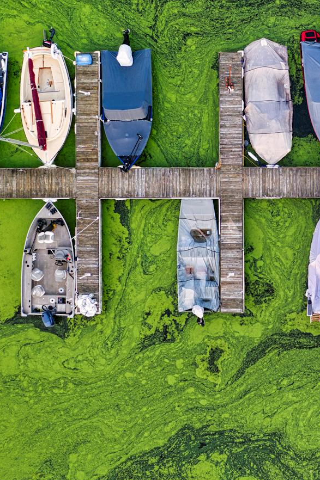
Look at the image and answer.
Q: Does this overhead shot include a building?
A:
No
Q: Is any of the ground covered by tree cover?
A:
No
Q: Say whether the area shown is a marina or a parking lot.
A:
marina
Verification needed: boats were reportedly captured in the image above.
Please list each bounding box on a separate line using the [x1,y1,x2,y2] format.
[0,24,75,166]
[21,200,78,332]
[101,29,155,172]
[176,199,220,329]
[0,52,11,143]
[242,38,292,165]
[299,29,320,141]
[306,216,320,322]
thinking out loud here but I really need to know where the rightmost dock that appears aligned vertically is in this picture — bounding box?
[218,50,246,314]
